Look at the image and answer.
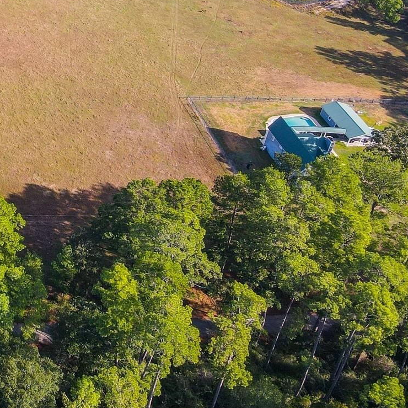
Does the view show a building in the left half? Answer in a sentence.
No, there is no building in the left half.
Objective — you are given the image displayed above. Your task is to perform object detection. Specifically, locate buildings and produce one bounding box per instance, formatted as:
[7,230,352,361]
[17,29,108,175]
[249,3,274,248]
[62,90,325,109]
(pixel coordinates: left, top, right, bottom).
[320,98,395,163]
[261,116,339,186]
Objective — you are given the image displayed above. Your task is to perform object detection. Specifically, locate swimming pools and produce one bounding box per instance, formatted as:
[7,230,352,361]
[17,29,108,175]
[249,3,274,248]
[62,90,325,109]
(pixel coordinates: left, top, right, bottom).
[290,117,316,129]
